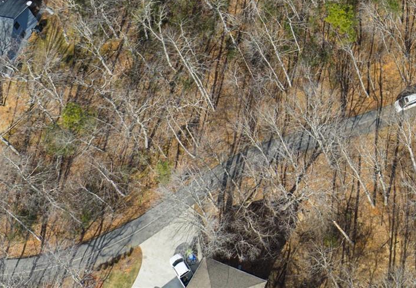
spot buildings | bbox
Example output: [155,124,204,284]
[0,0,50,71]
[187,257,267,288]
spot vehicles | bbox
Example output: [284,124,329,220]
[167,251,193,288]
[396,92,416,111]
